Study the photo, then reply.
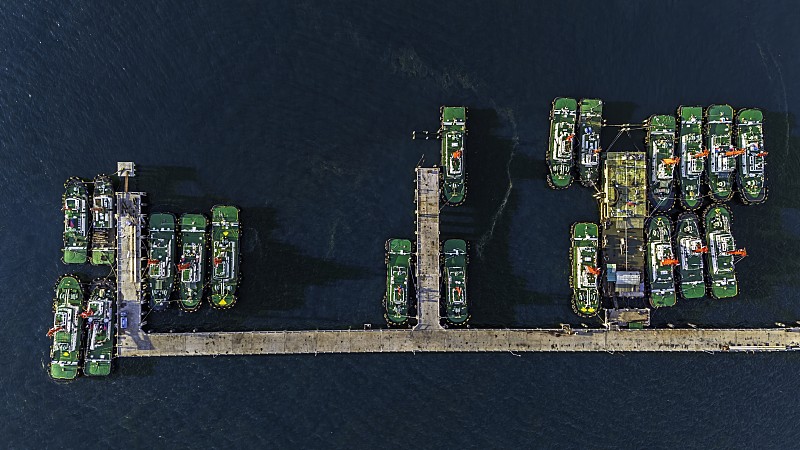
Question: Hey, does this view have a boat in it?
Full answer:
Yes, you can see a boat in this photo.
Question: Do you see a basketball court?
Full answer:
No, no basketball court is visible in the scene.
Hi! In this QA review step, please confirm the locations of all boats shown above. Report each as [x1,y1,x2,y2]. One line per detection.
[703,204,745,298]
[548,98,578,189]
[674,212,710,298]
[576,99,604,186]
[676,107,712,209]
[53,176,91,263]
[441,240,469,325]
[646,116,683,211]
[570,223,601,318]
[176,215,209,311]
[208,205,241,309]
[385,240,413,326]
[76,282,117,375]
[145,214,178,310]
[85,176,118,263]
[645,212,683,306]
[734,109,770,203]
[441,108,469,205]
[45,276,86,379]
[705,107,747,202]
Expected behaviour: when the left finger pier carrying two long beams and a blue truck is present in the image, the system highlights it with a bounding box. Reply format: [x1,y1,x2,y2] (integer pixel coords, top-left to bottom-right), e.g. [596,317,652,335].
[115,191,148,334]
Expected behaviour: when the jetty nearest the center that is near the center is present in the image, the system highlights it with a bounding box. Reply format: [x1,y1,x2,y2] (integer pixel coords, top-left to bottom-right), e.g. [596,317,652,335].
[410,167,447,331]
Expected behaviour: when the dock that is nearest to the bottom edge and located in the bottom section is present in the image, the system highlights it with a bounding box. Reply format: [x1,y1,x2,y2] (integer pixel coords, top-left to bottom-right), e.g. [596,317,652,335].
[116,325,800,358]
